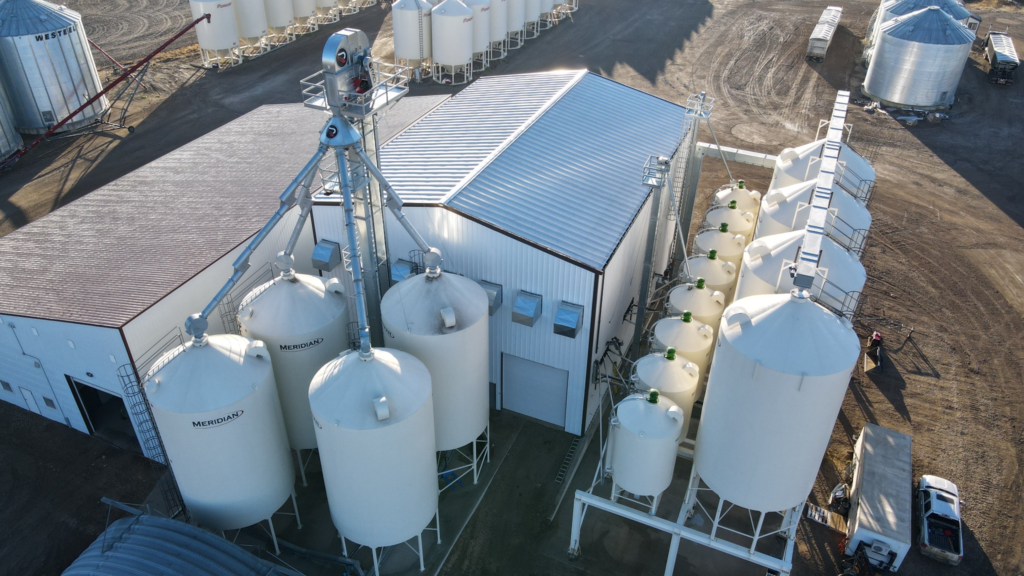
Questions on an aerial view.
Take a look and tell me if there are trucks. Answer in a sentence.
Yes, a truck is visible in the scene.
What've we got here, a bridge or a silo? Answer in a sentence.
Visible in the photo is a silo.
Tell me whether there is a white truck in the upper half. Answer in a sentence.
Yes, there is a white truck in the upper half.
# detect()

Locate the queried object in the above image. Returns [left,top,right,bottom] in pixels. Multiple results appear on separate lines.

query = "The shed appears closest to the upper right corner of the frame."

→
[962,5,984,35]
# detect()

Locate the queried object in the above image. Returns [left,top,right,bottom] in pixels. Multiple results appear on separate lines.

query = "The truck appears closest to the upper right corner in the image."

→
[982,24,1020,84]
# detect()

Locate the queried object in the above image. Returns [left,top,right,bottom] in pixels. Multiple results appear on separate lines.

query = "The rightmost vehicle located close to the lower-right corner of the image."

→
[912,474,965,569]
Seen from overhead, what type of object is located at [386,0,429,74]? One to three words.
silo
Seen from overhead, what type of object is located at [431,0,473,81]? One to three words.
silo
